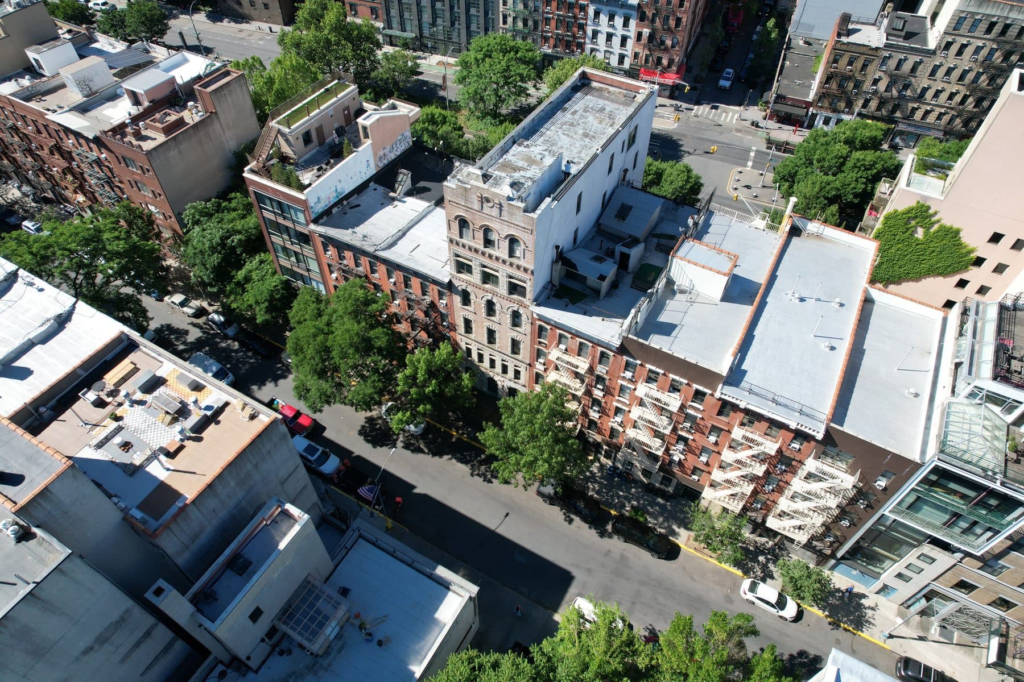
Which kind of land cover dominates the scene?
buildings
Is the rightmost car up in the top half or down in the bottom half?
bottom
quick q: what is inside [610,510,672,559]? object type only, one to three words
car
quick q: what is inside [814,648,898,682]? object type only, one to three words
truck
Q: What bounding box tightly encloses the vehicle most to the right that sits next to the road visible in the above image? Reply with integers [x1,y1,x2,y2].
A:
[889,651,957,682]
